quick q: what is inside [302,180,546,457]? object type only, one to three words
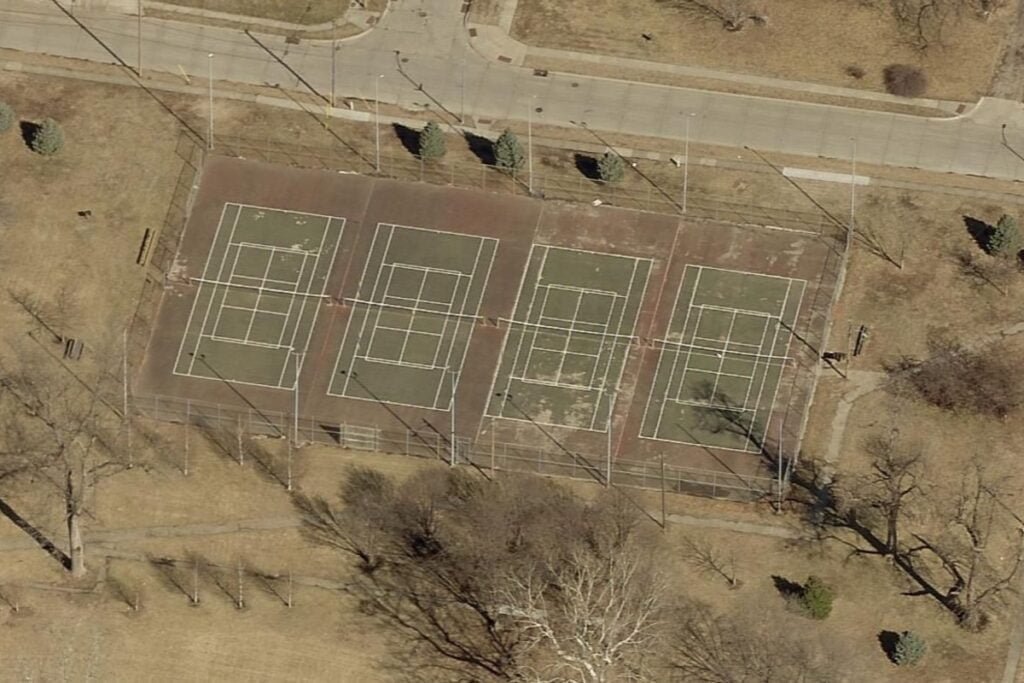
tennis court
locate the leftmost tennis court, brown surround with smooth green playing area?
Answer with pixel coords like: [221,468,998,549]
[132,157,376,434]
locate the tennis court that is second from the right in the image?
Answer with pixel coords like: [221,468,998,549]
[473,203,682,477]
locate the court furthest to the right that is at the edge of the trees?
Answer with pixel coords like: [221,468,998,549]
[614,221,845,500]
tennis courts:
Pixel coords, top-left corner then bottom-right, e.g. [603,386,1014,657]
[302,180,546,457]
[473,203,682,477]
[614,221,845,500]
[132,157,376,434]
